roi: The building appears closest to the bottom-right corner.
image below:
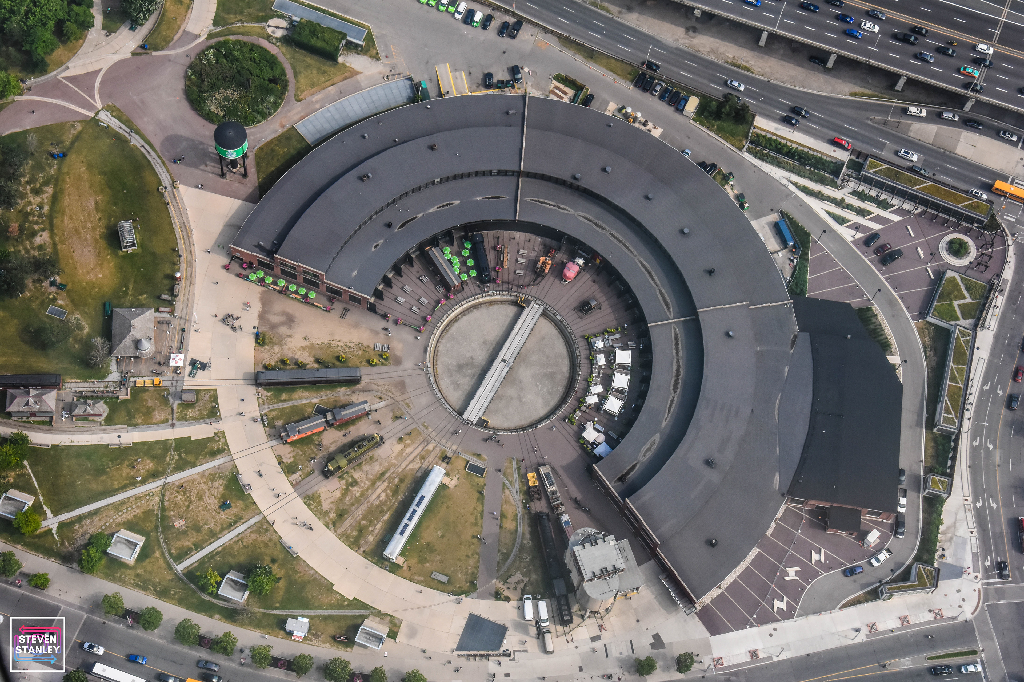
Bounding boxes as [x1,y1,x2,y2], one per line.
[879,563,939,599]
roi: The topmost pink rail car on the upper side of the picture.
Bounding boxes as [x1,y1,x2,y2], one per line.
[562,257,582,284]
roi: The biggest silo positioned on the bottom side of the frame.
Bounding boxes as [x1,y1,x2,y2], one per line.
[566,546,616,616]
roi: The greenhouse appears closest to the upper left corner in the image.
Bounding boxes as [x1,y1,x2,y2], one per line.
[118,218,136,251]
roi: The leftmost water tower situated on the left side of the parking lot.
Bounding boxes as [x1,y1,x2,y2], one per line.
[213,120,248,177]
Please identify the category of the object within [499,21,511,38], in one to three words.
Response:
vehicle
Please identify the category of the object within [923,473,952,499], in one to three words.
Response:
building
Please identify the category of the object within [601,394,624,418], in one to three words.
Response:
umbrella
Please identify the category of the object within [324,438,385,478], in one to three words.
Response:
rail car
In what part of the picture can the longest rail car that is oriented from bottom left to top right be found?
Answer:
bottom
